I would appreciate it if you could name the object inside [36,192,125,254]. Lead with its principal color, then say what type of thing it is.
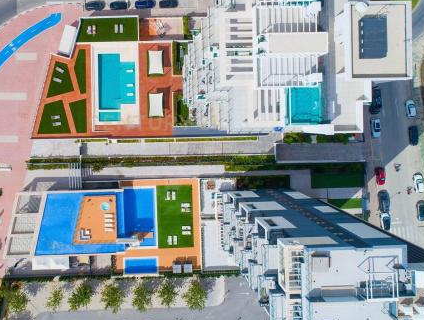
blue swimming pool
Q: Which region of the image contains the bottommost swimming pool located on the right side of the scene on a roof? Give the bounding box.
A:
[285,86,321,124]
